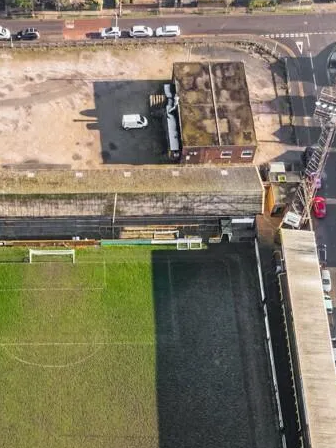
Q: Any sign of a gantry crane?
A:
No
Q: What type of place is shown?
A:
sports ground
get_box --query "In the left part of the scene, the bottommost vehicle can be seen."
[122,115,147,129]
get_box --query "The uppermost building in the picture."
[172,62,257,164]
